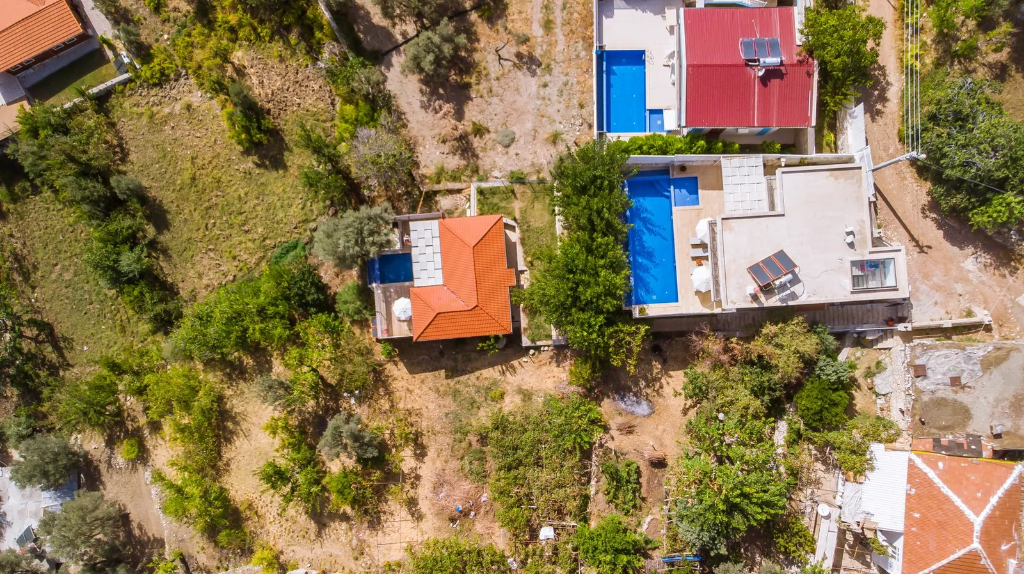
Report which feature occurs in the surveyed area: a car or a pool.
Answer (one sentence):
The image shows a pool.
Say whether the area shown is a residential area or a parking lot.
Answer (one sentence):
The picture captures a residential area.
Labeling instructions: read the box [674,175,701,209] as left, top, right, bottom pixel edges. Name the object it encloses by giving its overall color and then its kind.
blue swimming pool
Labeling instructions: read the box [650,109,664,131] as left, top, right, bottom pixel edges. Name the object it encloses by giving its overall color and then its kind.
blue swimming pool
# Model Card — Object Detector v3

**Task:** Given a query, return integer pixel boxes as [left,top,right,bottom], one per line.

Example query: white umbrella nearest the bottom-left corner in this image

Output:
[391,298,412,321]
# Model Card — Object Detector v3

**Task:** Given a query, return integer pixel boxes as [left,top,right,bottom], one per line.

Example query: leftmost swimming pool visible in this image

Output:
[376,251,414,288]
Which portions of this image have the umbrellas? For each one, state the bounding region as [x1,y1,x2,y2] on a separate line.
[690,217,715,244]
[690,266,711,293]
[391,298,412,321]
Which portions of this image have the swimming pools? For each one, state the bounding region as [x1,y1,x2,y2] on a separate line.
[602,46,650,135]
[376,251,414,288]
[674,175,701,209]
[650,109,664,131]
[626,166,681,308]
